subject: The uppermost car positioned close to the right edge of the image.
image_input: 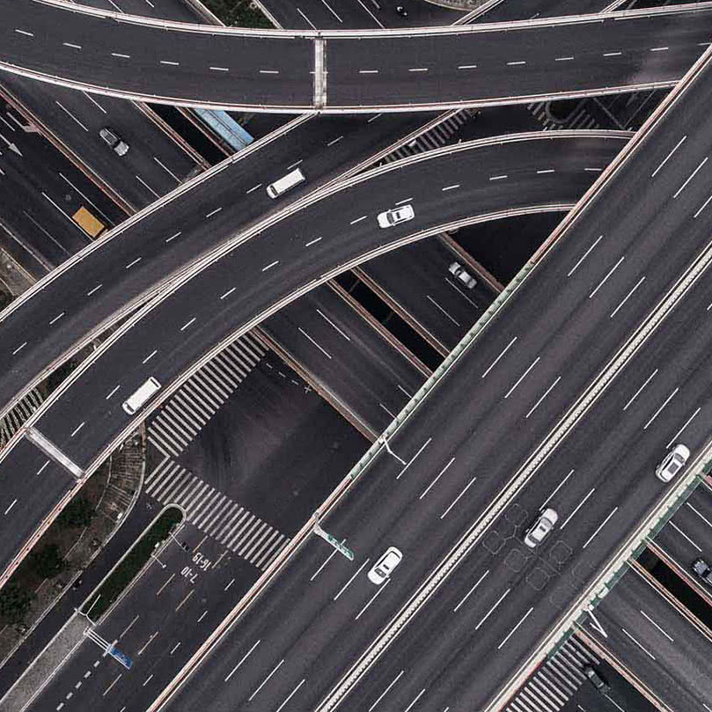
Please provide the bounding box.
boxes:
[652,443,691,483]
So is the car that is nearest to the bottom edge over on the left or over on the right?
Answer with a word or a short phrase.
right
